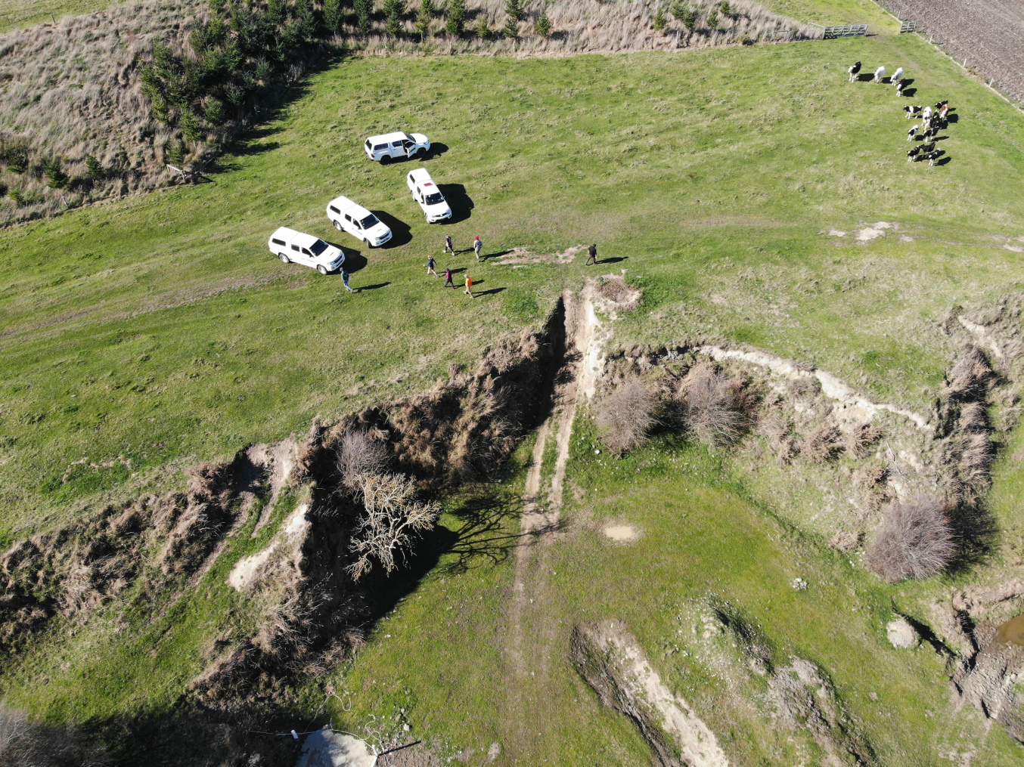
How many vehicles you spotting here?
4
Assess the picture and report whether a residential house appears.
No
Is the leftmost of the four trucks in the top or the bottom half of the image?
top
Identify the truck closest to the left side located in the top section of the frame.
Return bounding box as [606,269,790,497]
[263,225,347,275]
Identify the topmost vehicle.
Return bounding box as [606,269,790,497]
[361,131,433,164]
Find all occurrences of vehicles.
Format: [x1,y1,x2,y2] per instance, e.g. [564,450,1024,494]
[323,195,395,249]
[263,225,347,275]
[405,169,453,223]
[361,131,433,164]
